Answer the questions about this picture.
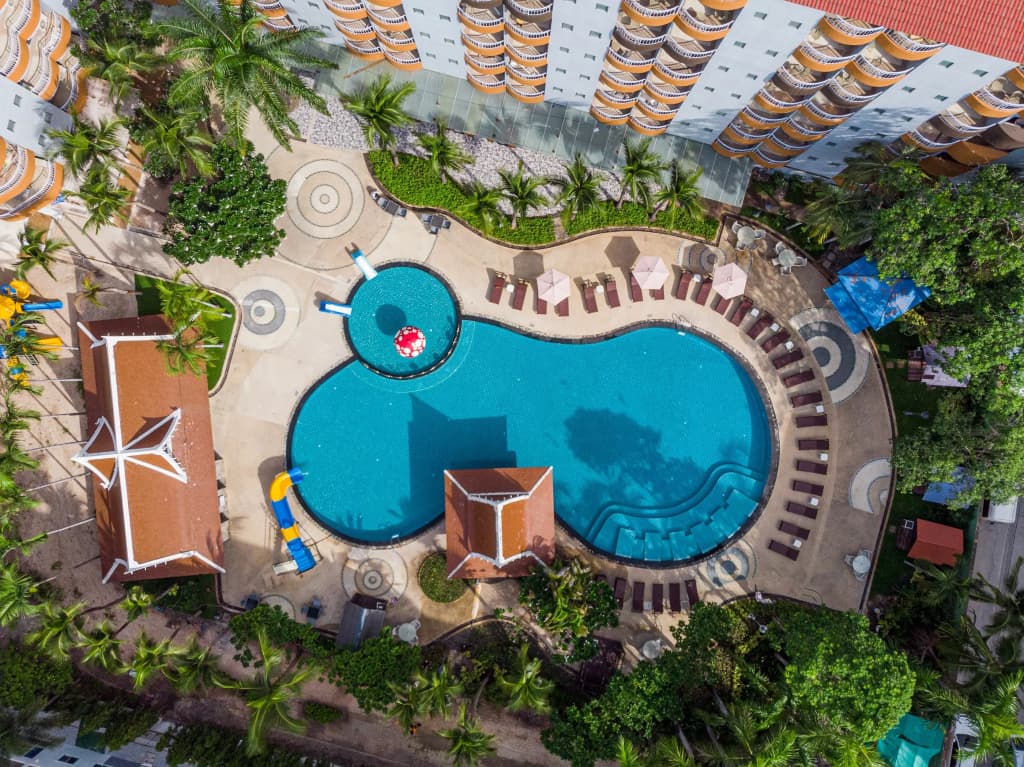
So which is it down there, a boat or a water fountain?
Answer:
water fountain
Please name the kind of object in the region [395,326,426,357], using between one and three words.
fountain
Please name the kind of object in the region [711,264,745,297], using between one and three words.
umbrella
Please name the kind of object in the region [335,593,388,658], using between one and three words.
shed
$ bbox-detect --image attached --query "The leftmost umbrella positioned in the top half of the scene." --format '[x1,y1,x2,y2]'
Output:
[537,270,569,305]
